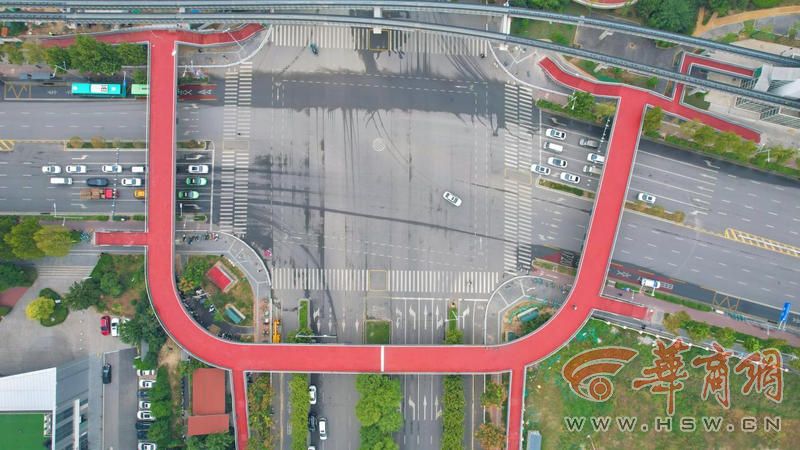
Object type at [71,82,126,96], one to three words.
vehicle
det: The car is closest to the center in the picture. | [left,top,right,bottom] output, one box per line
[442,191,462,206]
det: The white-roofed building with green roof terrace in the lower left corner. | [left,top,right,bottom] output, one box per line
[0,355,87,450]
